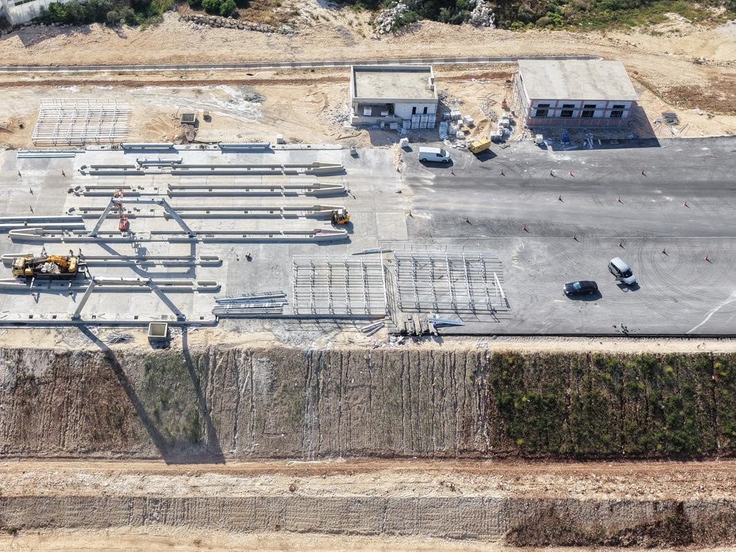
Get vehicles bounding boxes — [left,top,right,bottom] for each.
[608,256,640,286]
[326,206,351,227]
[5,248,93,297]
[564,282,602,299]
[418,146,452,165]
